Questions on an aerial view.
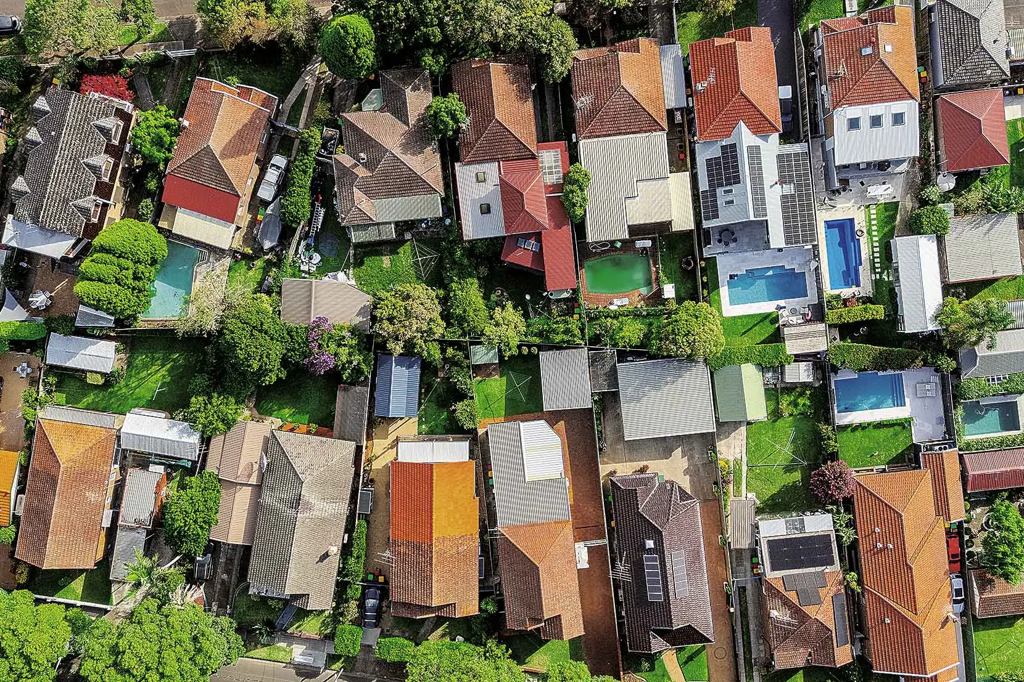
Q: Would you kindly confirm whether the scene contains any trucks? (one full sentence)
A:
Yes, there's a truck here.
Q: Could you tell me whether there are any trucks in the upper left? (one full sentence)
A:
Yes, a truck can be seen in the upper left.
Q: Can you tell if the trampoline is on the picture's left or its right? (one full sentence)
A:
You can find the trampoline on the left side of the picture.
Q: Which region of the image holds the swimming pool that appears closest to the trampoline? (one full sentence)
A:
The swimming pool that appears closest to the trampoline appears toward the left of the photo.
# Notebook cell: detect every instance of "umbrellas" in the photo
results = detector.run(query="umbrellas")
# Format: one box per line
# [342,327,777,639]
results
[936,172,955,191]
[812,254,824,270]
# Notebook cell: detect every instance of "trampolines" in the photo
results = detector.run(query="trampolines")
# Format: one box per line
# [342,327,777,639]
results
[317,234,338,255]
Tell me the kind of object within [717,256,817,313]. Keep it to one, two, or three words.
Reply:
swimming pool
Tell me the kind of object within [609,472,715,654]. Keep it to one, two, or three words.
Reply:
house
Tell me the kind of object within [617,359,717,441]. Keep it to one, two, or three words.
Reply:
building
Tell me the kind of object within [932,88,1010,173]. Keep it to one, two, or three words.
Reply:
shed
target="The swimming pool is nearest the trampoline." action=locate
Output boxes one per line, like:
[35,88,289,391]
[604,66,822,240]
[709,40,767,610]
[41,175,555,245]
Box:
[133,233,216,324]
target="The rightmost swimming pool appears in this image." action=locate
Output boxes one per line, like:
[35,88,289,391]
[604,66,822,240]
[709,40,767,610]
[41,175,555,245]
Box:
[955,394,1024,434]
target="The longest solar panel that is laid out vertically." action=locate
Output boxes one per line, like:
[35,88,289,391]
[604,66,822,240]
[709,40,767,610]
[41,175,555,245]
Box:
[834,595,849,646]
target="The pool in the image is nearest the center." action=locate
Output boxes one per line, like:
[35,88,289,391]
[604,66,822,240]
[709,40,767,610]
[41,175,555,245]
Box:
[575,242,663,306]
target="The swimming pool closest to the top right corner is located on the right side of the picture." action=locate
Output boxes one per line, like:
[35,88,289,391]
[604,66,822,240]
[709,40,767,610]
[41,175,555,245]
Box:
[818,211,869,295]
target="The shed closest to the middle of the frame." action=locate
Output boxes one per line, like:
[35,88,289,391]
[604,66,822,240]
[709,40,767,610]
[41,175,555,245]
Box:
[470,344,499,366]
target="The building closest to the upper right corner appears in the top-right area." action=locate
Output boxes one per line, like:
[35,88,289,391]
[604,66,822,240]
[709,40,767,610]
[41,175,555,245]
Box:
[923,0,1024,90]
